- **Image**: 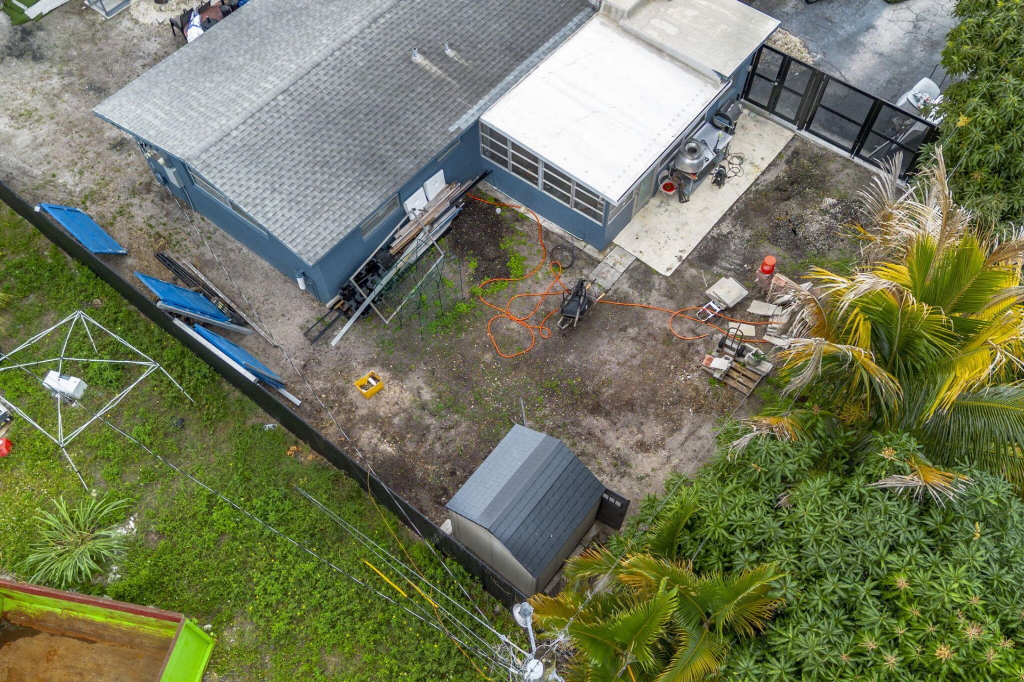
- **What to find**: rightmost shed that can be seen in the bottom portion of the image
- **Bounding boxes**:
[444,425,629,597]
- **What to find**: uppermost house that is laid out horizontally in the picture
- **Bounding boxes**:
[90,0,784,308]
